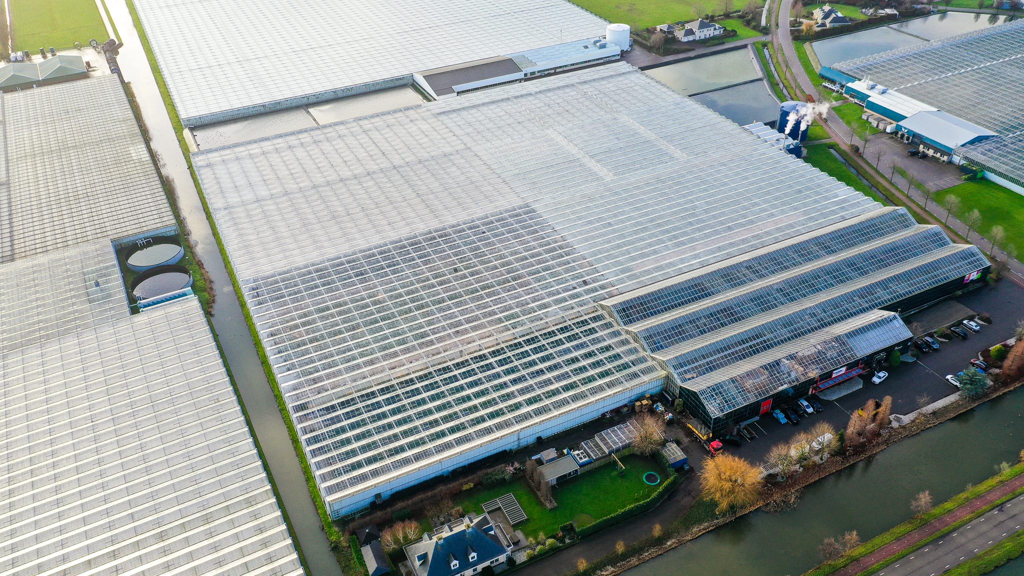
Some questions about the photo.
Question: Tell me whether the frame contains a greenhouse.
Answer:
Yes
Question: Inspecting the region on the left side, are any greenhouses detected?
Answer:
Yes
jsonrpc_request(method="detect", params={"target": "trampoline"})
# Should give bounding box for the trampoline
[642,472,660,486]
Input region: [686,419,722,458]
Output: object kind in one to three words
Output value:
truck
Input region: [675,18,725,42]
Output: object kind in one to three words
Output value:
house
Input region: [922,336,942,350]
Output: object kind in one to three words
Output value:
car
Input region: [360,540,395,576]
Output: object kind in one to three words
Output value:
shed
